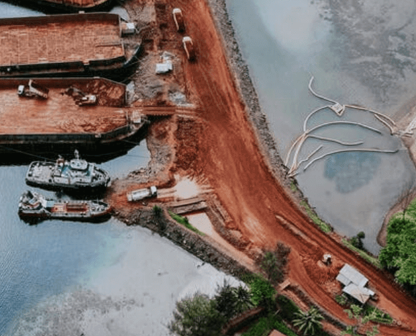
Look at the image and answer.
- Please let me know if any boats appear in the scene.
Yes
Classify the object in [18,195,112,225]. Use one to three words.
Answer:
ship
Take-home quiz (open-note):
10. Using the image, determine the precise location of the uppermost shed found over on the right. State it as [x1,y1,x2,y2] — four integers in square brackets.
[336,264,368,288]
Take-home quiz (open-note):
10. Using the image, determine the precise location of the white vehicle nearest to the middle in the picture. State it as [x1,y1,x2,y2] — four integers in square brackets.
[128,182,158,200]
